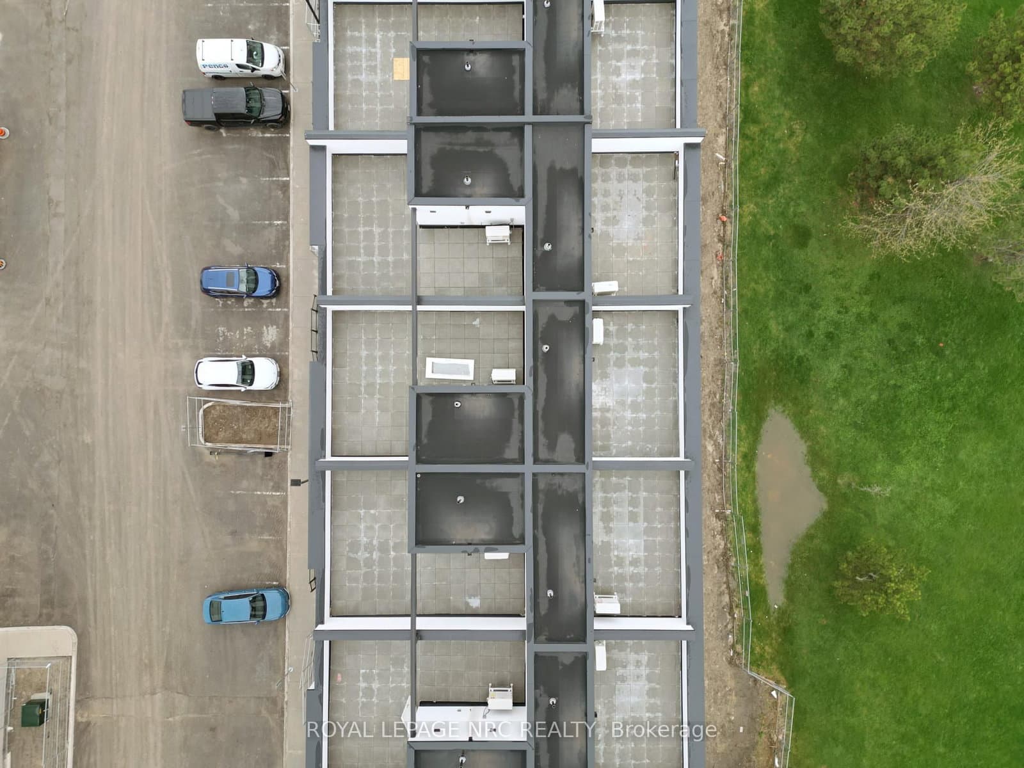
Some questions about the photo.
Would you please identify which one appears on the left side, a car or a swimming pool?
car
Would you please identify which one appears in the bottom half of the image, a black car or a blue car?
blue car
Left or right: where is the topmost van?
left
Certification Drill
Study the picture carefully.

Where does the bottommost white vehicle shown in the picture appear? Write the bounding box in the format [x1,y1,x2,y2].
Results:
[192,354,283,395]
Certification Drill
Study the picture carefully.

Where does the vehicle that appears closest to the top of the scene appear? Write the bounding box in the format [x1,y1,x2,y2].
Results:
[196,39,290,81]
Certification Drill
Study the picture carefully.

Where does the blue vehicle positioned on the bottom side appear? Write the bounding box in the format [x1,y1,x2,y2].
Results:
[204,584,295,626]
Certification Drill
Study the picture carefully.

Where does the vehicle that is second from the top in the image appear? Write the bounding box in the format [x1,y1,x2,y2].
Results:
[183,84,294,132]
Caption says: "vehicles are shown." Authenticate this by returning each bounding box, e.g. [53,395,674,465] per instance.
[204,584,295,626]
[196,39,290,81]
[183,84,294,132]
[192,354,283,395]
[199,263,284,302]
